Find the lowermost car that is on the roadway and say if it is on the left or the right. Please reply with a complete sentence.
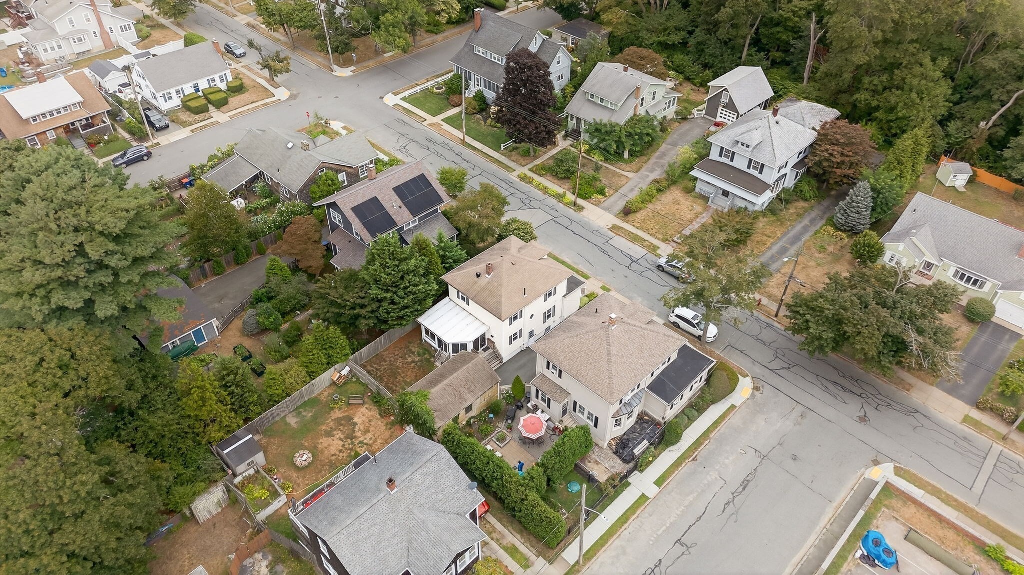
The lowermost car that is on the roadway is on the right side of the image.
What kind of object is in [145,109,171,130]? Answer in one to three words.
truck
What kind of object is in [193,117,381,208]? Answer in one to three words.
house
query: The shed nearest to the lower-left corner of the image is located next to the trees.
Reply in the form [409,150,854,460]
[217,428,265,477]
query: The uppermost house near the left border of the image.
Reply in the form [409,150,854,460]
[0,0,142,62]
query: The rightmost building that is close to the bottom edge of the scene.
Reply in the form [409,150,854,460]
[288,432,487,575]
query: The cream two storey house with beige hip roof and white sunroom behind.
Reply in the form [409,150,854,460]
[416,235,588,363]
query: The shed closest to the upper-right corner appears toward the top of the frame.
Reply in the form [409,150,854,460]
[936,155,973,190]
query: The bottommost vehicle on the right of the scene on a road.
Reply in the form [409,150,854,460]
[674,304,722,342]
